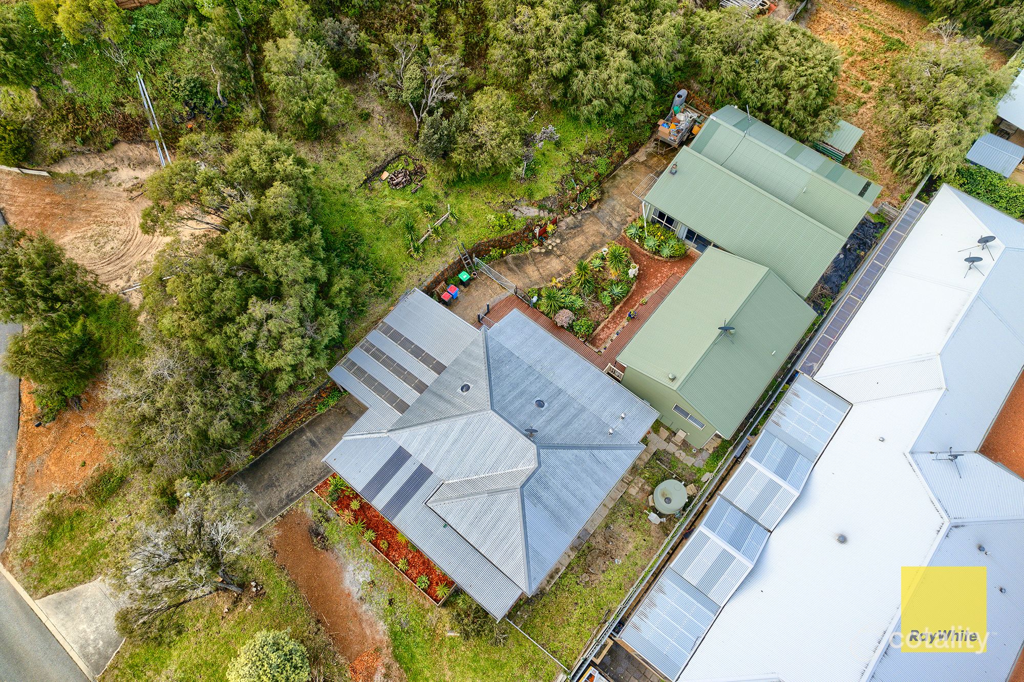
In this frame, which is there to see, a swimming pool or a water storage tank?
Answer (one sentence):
Of the two, only a water storage tank appears.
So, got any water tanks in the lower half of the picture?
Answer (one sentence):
Yes, I can see a water tank in the lower half of the picture.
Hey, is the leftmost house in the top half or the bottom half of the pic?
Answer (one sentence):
The leftmost house sits in the bottom half of the picture.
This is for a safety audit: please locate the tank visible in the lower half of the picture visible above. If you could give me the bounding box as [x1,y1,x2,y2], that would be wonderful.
[649,479,688,518]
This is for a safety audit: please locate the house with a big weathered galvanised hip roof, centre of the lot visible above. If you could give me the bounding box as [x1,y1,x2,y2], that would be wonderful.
[322,288,660,622]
